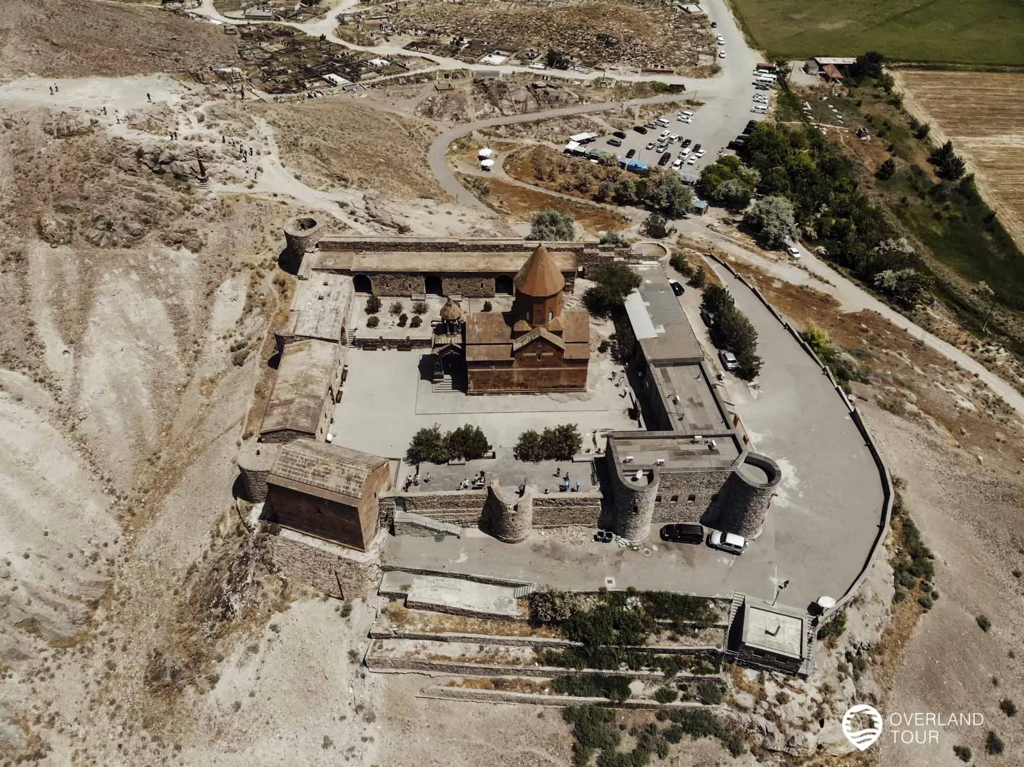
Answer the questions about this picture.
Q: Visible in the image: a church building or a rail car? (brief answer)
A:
church building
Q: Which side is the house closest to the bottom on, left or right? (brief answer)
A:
right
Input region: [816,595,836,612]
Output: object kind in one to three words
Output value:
umbrella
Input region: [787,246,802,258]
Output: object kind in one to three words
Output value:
vehicle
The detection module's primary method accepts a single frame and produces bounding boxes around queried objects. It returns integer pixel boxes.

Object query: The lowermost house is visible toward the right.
[718,596,818,696]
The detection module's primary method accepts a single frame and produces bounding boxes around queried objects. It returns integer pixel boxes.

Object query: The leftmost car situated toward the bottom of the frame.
[660,522,704,544]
